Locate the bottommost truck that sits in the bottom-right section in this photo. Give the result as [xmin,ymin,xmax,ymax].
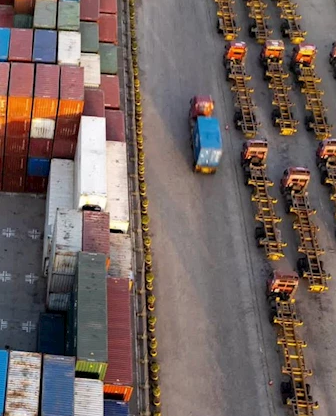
[263,268,319,416]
